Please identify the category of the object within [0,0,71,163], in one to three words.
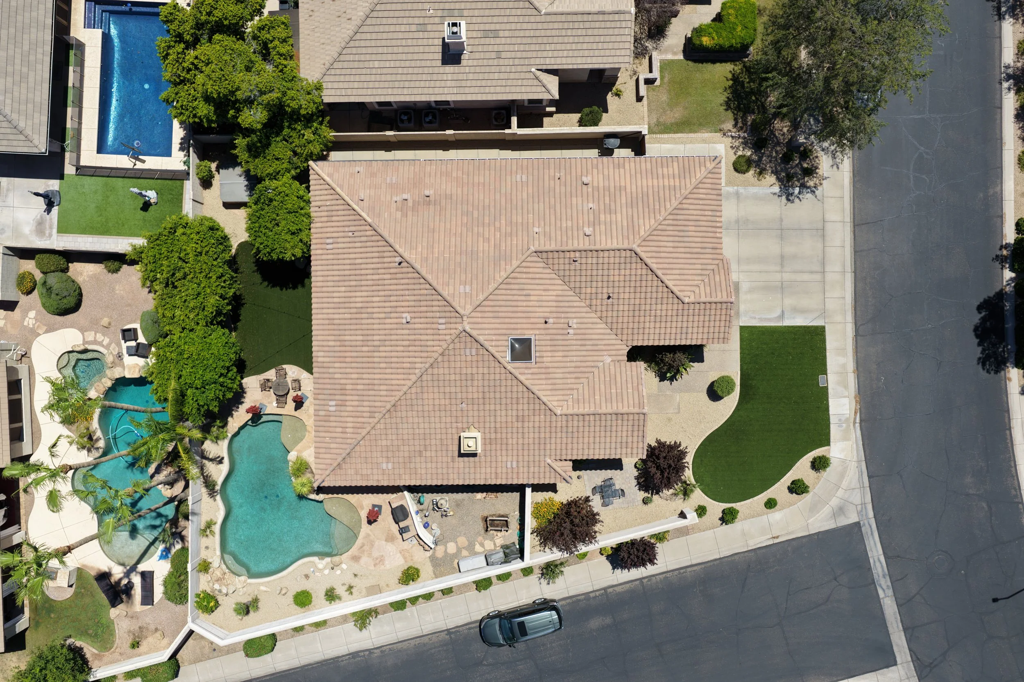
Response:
house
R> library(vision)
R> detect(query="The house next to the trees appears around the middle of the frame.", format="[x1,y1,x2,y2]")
[307,153,735,489]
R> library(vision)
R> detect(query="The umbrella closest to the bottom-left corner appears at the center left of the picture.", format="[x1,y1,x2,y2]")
[248,402,268,416]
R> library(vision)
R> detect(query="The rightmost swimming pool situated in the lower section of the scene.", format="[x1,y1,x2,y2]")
[215,414,361,583]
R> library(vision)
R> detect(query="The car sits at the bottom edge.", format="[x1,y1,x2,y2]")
[477,597,564,649]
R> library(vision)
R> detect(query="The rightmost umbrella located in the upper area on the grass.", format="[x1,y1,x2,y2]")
[127,186,158,203]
